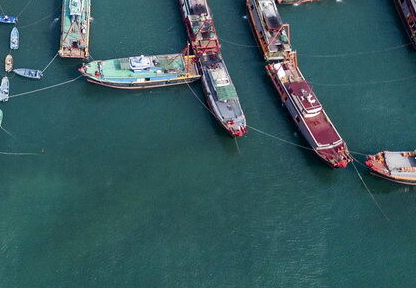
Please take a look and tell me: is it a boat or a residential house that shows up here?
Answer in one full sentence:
This aerial view contains a boat.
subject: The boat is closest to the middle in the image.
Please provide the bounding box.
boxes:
[200,52,247,138]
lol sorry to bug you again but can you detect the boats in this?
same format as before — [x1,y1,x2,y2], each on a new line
[200,52,247,138]
[246,0,294,58]
[178,0,223,55]
[0,76,9,102]
[79,50,199,89]
[59,0,91,59]
[268,54,350,168]
[5,54,13,72]
[14,69,44,80]
[10,27,19,50]
[365,147,416,186]
[393,0,416,50]
[0,16,18,23]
